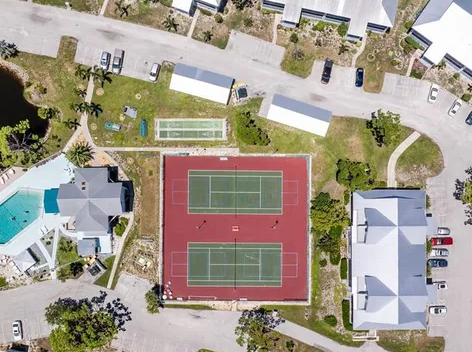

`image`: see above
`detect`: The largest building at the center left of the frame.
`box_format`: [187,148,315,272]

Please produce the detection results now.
[57,168,124,236]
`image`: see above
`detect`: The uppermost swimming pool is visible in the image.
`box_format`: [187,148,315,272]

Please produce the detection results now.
[45,187,59,213]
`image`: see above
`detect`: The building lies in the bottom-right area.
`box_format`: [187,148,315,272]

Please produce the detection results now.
[350,191,438,329]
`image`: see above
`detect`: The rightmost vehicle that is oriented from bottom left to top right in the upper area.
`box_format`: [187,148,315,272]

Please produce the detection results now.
[448,98,463,117]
